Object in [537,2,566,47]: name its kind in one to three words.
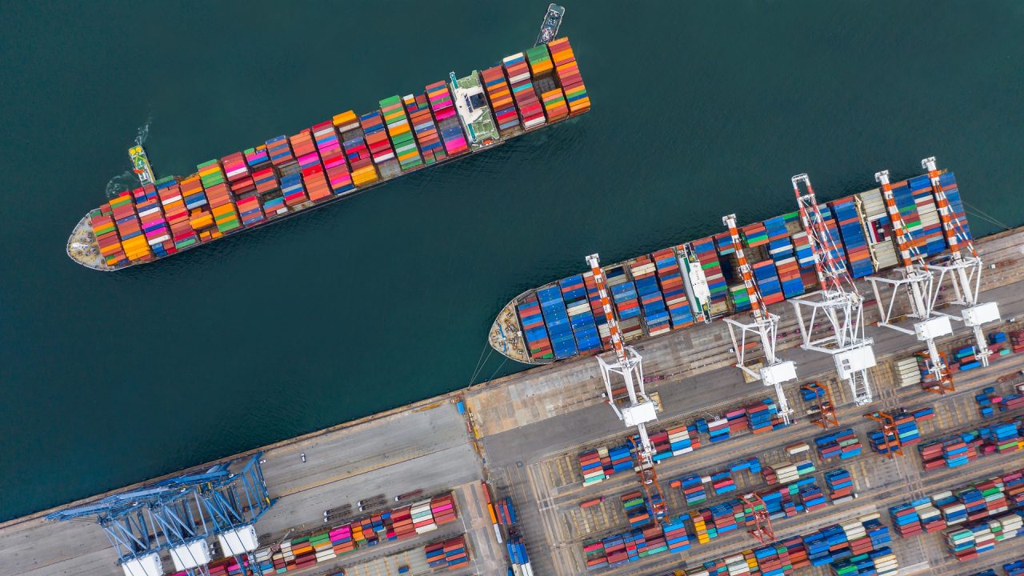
boat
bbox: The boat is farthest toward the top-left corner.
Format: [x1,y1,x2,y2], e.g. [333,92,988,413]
[128,144,157,187]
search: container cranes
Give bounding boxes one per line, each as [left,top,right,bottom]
[637,477,671,528]
[901,155,1002,369]
[148,451,282,576]
[857,170,954,383]
[799,380,841,431]
[782,172,879,411]
[624,434,659,485]
[586,254,662,467]
[90,464,233,576]
[717,214,799,427]
[33,486,188,576]
[912,349,958,397]
[737,490,776,546]
[862,410,907,463]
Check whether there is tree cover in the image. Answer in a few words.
No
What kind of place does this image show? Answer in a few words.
port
